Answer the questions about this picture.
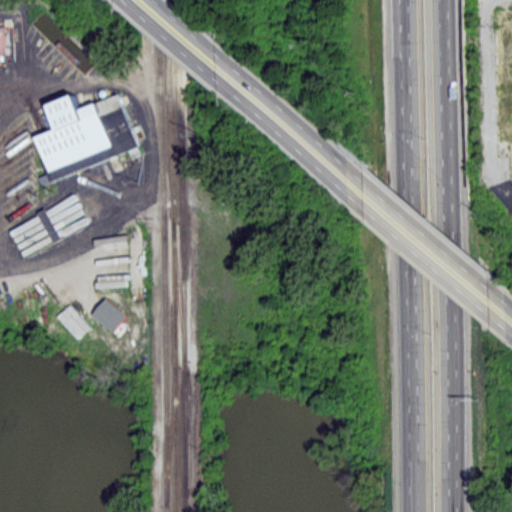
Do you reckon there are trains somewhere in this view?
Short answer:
No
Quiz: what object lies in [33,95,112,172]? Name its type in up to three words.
building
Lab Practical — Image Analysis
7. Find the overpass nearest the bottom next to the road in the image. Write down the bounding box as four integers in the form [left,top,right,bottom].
[362,166,489,325]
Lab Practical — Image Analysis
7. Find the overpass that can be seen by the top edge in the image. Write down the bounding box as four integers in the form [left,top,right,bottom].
[124,0,214,90]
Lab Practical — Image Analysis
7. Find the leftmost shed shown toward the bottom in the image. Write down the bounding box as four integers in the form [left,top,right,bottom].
[57,306,94,340]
